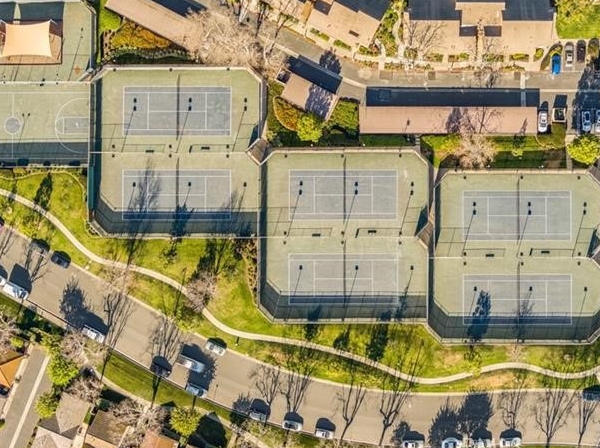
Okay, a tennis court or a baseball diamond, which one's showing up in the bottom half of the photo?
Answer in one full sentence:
It is a tennis court that can be seen in the bottom half of the photo.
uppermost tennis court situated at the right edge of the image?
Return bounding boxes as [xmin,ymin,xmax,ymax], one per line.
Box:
[435,176,600,258]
